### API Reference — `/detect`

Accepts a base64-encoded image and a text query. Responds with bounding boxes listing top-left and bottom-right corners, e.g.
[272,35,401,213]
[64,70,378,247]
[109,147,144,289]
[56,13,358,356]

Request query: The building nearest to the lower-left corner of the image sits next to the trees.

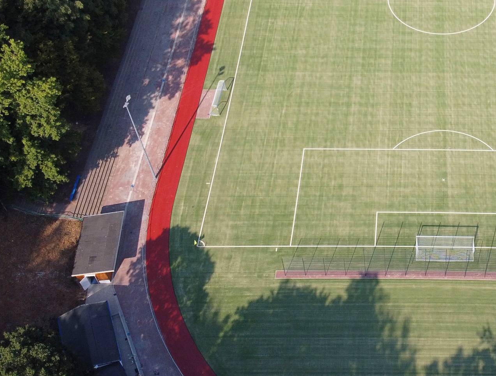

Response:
[57,300,126,376]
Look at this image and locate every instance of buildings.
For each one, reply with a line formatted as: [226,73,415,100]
[57,300,126,376]
[65,211,123,291]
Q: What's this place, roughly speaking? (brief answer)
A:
sports ground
